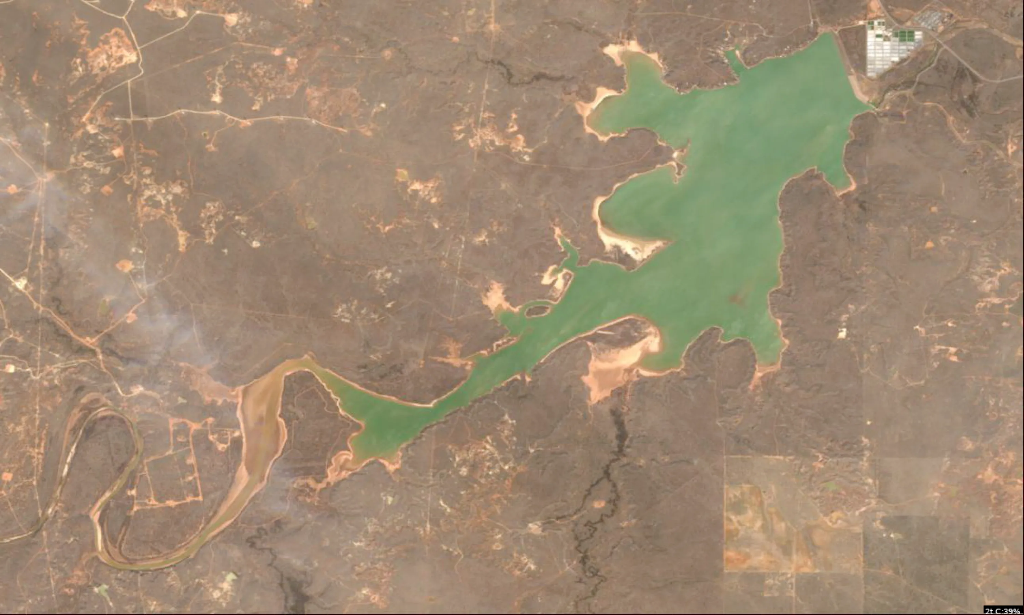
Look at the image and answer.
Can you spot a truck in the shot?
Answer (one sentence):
No, the picture doesn't show any truck.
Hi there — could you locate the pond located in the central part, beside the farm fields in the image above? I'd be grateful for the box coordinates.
[277,34,872,469]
